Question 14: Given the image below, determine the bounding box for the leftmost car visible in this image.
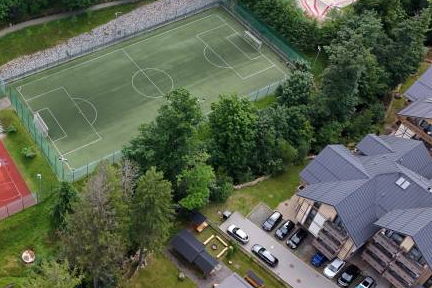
[225,223,253,244]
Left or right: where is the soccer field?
left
